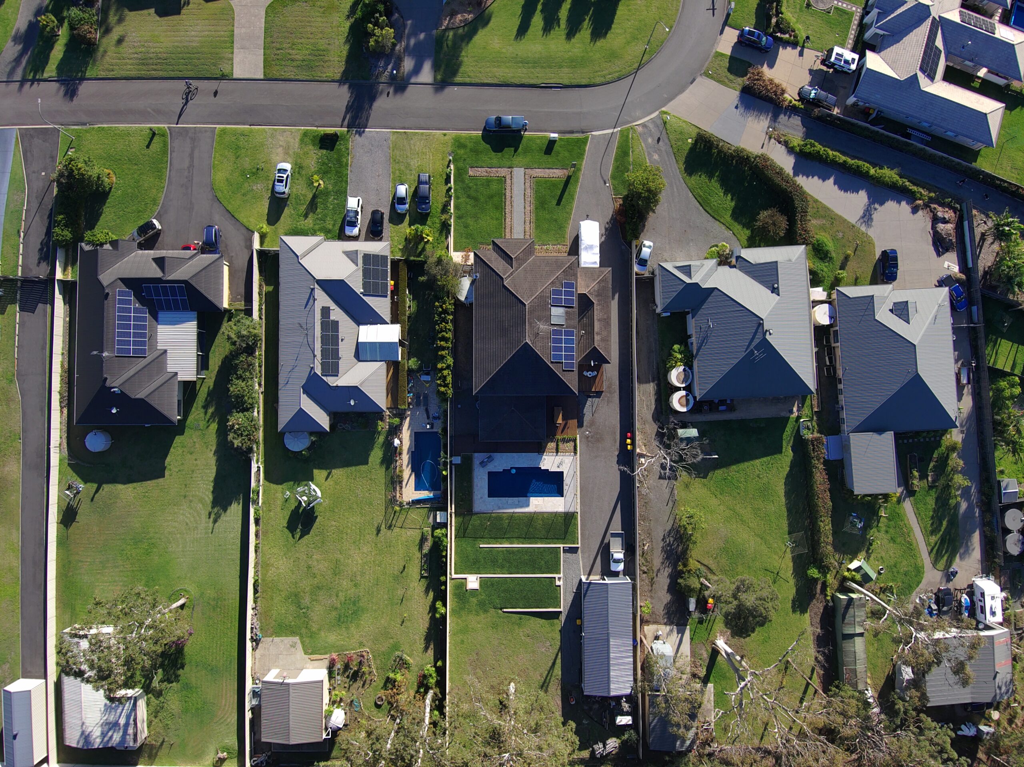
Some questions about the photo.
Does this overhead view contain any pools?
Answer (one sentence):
Yes, the frame does contain a pool.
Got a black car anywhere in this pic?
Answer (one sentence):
Yes, there's a black car down there.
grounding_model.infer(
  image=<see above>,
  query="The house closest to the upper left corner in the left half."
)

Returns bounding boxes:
[74,239,228,425]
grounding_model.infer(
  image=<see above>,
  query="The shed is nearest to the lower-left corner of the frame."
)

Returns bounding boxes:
[3,681,47,767]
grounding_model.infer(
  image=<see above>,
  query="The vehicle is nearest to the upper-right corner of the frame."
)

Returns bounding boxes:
[814,47,862,78]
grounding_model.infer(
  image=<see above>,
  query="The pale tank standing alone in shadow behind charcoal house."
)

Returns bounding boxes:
[86,425,121,455]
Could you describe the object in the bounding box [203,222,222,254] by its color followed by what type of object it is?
blue car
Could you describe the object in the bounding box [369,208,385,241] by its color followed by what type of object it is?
black car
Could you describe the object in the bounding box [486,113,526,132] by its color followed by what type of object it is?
blue vehicle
